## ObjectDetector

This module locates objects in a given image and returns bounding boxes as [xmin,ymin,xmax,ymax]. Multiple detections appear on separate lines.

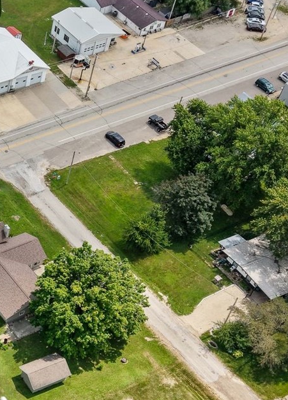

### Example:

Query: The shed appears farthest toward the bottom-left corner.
[20,354,70,395]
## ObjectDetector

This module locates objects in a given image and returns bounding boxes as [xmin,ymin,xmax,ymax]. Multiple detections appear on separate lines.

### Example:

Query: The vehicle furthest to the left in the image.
[104,132,127,147]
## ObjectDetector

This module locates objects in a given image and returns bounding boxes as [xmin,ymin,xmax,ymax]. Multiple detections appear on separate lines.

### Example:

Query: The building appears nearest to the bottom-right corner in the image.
[217,231,288,308]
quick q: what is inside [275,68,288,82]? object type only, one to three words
vehicle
